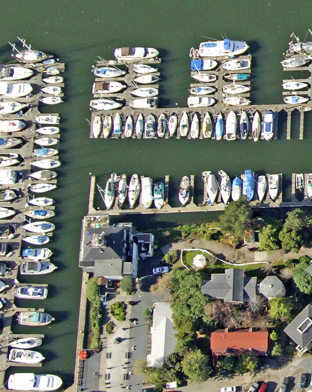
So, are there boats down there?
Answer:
Yes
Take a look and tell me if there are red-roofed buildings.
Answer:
Yes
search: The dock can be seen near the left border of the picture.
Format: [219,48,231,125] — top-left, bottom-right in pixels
[0,61,66,392]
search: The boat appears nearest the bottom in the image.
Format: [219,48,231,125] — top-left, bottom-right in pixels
[5,373,62,391]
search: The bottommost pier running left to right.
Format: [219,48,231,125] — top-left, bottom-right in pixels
[88,173,312,216]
